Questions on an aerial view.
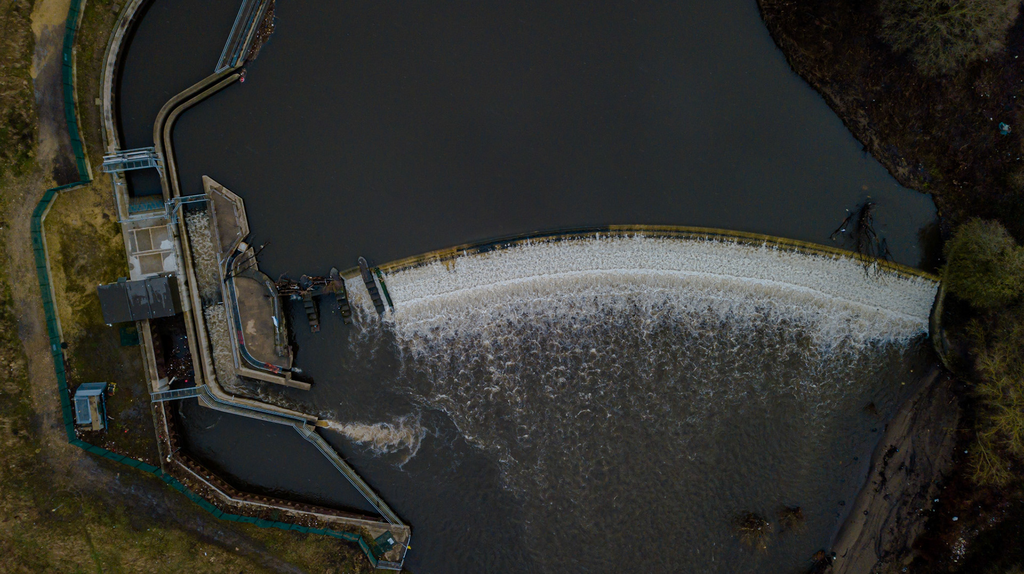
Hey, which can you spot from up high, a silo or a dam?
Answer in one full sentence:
It is a dam that can be seen here.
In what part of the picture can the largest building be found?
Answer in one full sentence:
The largest building sits in the left section of the image.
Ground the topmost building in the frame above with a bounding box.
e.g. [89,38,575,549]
[97,275,186,325]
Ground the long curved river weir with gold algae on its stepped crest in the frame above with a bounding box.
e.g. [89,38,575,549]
[378,224,946,287]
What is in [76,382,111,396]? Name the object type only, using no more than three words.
building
